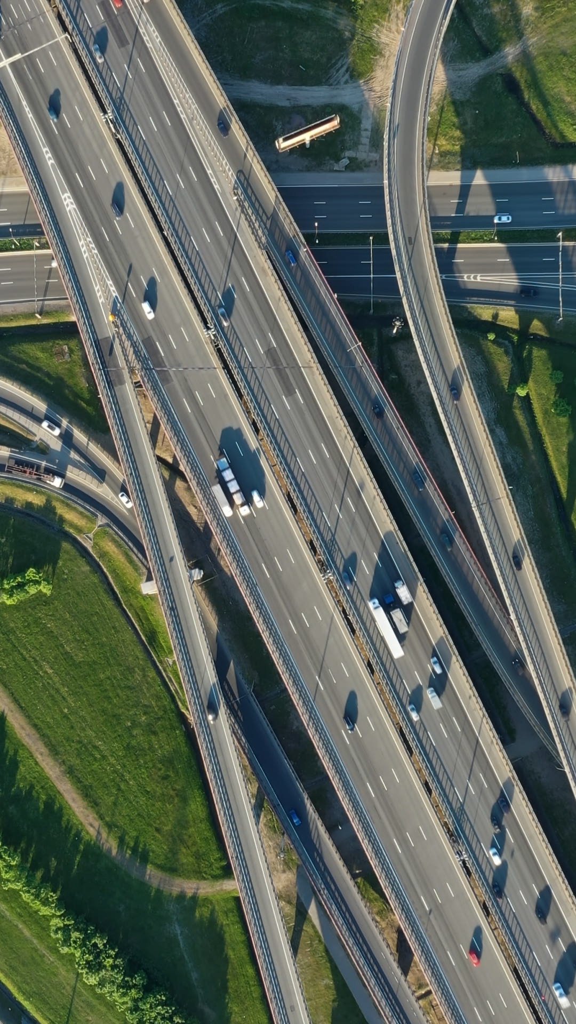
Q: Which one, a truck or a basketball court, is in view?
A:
truck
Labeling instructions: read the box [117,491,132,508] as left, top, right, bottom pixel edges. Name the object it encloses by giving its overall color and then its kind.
white car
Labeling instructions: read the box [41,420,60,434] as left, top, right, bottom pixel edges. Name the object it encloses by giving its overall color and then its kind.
white car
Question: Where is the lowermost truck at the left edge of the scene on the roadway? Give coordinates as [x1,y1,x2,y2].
[2,461,65,487]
